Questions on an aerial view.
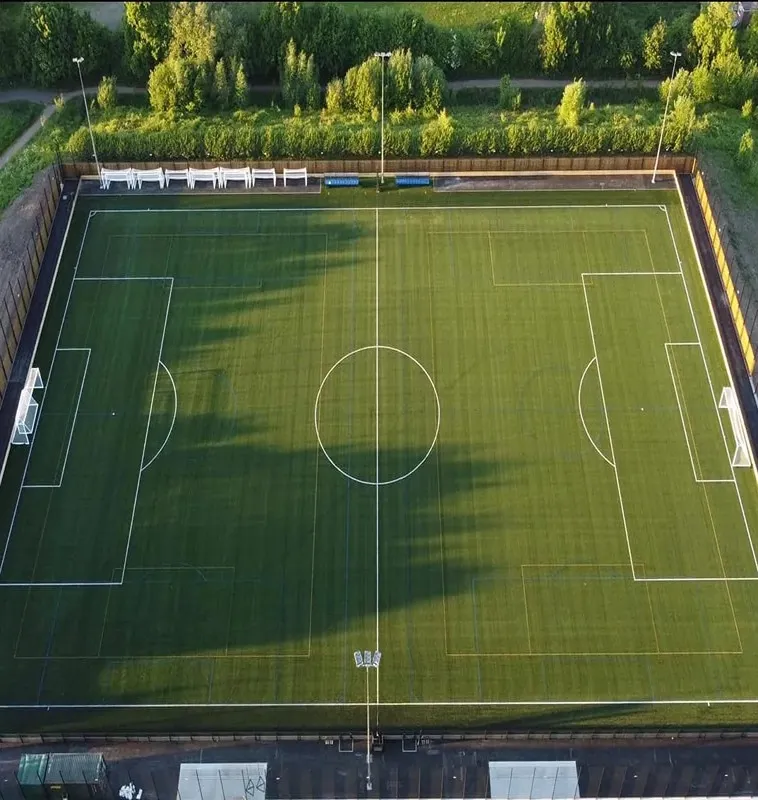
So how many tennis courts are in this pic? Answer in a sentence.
The picture shows no tennis courts.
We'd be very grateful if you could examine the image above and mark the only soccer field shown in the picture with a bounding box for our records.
[0,176,758,729]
